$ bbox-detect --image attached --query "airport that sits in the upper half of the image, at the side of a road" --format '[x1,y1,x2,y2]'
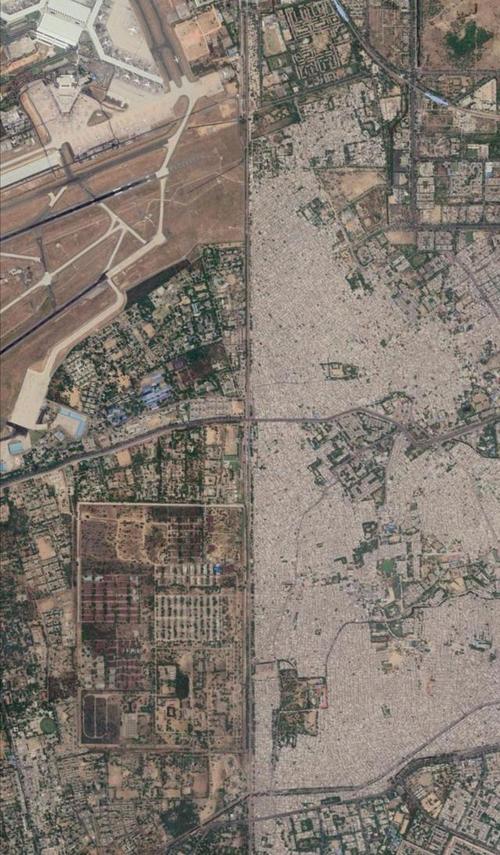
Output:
[0,0,242,473]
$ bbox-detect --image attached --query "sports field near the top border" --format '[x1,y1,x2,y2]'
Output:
[263,15,285,57]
